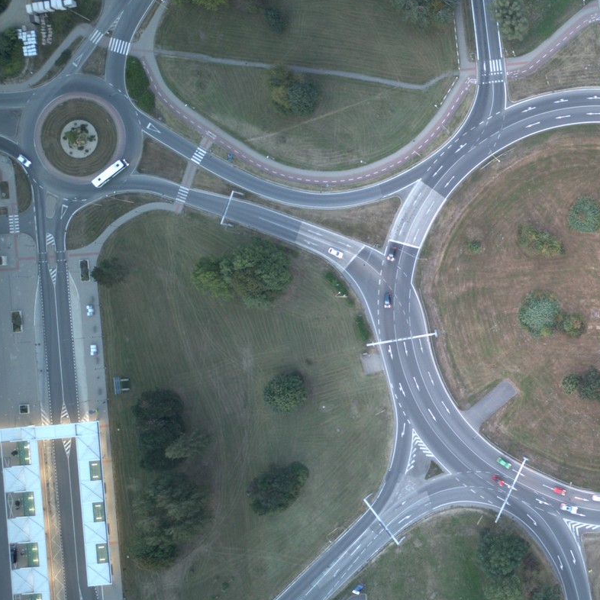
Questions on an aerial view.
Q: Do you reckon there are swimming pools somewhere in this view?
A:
No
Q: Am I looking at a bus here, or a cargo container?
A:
bus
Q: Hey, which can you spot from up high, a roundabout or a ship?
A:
roundabout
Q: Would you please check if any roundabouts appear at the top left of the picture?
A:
Yes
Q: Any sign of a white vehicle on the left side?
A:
Yes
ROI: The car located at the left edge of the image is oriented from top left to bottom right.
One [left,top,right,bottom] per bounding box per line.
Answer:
[16,154,33,167]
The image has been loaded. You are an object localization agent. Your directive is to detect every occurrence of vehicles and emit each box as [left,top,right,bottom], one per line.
[388,247,396,262]
[8,548,19,564]
[384,292,391,308]
[495,457,512,468]
[327,248,345,259]
[89,156,132,191]
[592,494,600,502]
[562,502,579,512]
[16,154,33,167]
[490,474,506,485]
